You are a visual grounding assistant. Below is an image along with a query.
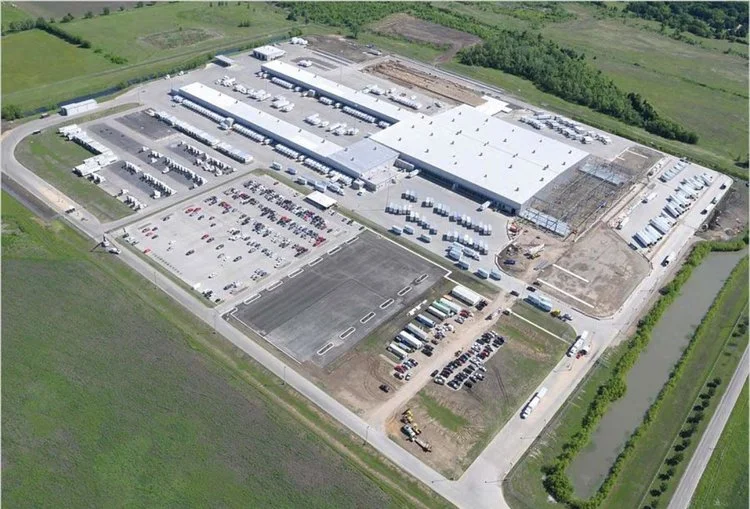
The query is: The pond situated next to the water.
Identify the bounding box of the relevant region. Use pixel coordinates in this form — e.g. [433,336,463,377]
[568,245,750,498]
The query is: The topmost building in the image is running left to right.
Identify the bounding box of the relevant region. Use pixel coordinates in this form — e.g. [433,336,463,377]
[253,46,286,62]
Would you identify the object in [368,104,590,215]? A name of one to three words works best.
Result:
building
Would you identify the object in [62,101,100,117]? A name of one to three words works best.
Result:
shed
